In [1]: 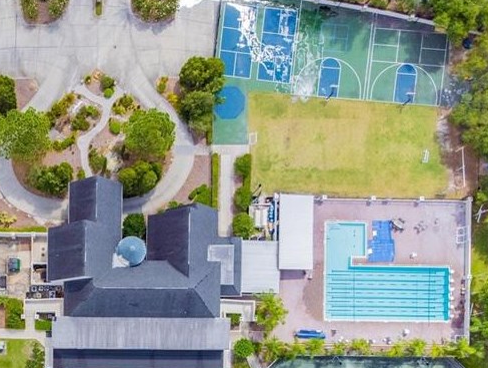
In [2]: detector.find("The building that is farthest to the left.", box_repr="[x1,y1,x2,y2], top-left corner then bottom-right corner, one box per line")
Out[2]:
[49,176,242,368]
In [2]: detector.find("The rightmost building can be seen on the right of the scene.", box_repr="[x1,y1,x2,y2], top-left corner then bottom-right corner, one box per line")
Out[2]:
[274,194,314,270]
